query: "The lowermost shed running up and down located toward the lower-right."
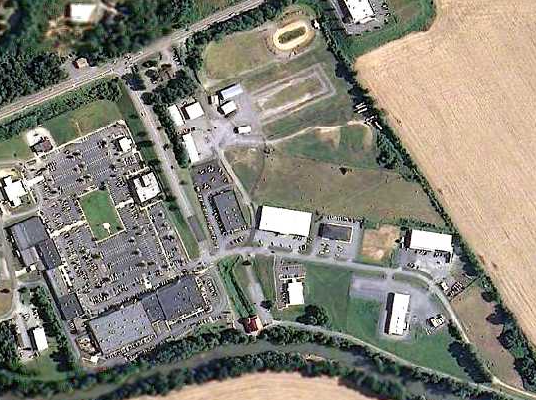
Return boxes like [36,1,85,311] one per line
[388,293,410,335]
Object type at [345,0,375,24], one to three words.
building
